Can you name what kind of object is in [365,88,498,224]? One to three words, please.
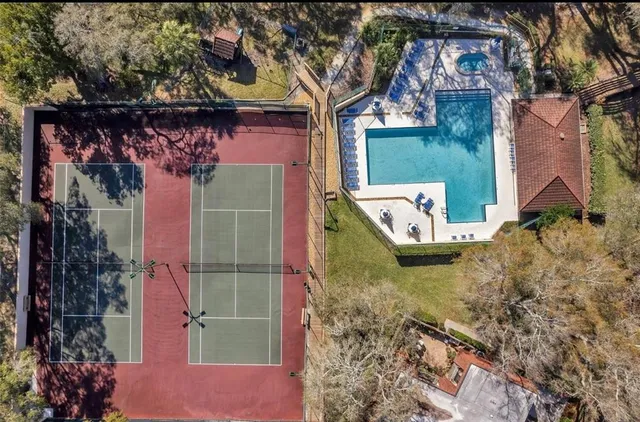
swimming pool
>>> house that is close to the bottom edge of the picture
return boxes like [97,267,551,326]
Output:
[443,363,538,422]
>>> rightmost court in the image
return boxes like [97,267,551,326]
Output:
[165,109,308,418]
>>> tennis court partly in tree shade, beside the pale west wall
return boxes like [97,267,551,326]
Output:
[26,109,168,418]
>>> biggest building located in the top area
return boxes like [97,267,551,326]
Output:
[511,96,586,211]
